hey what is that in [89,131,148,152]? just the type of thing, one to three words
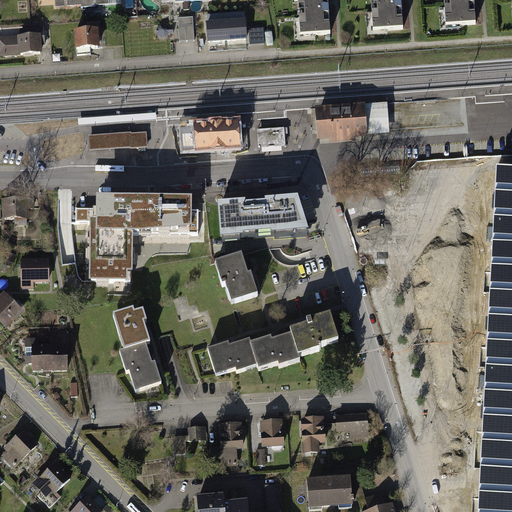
shed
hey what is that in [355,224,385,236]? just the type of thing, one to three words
vehicle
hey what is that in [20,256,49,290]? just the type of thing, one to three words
house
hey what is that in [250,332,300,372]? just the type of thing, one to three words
building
